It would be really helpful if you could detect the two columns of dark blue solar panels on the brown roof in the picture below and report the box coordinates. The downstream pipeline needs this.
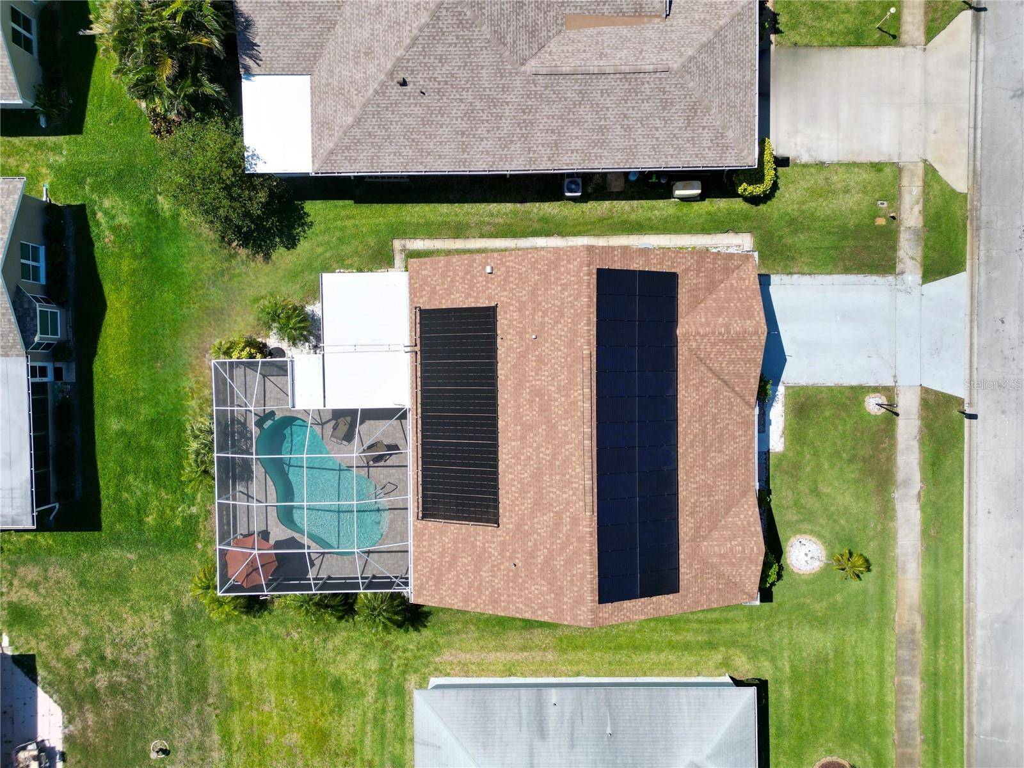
[598,268,678,603]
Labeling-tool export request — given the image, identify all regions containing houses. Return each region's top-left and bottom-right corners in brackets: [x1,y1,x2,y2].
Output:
[232,0,761,179]
[0,0,49,124]
[414,667,760,768]
[407,245,768,627]
[0,175,78,529]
